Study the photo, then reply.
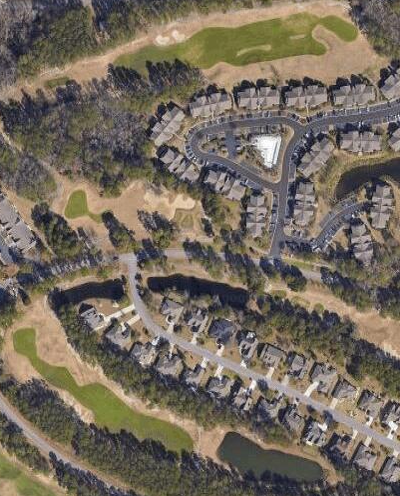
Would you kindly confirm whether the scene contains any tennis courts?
No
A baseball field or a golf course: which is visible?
golf course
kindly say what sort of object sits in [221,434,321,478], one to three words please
pond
